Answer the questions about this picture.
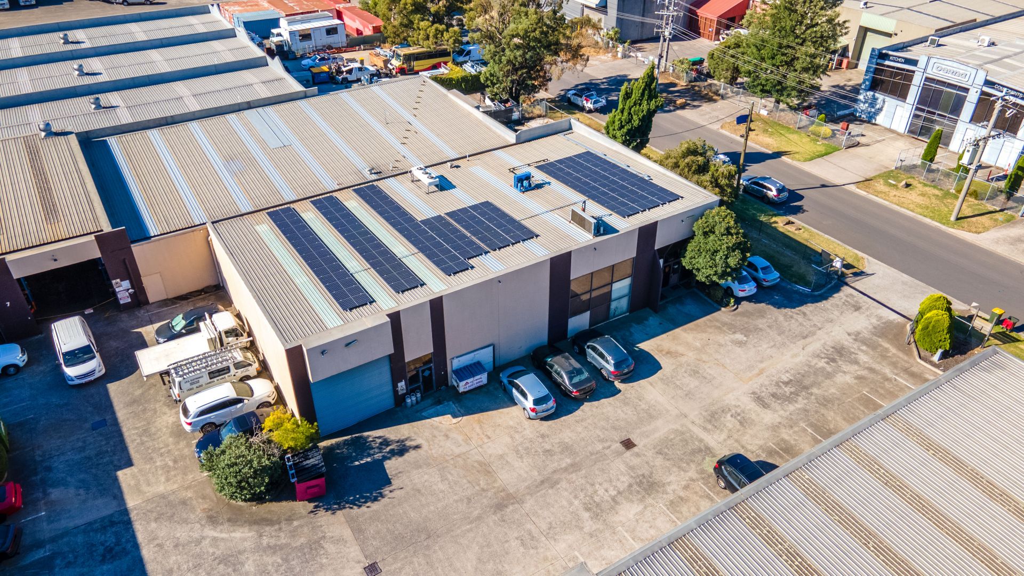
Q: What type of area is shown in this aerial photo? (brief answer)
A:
industrial area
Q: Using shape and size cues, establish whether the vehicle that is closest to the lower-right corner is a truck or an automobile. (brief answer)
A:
automobile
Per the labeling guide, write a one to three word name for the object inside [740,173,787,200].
car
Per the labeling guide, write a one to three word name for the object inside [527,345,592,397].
car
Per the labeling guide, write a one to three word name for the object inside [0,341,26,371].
truck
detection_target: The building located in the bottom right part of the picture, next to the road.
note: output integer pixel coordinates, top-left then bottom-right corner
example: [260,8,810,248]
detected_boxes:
[614,341,1024,576]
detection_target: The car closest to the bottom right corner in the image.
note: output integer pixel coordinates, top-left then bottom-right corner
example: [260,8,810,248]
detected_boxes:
[710,452,770,500]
